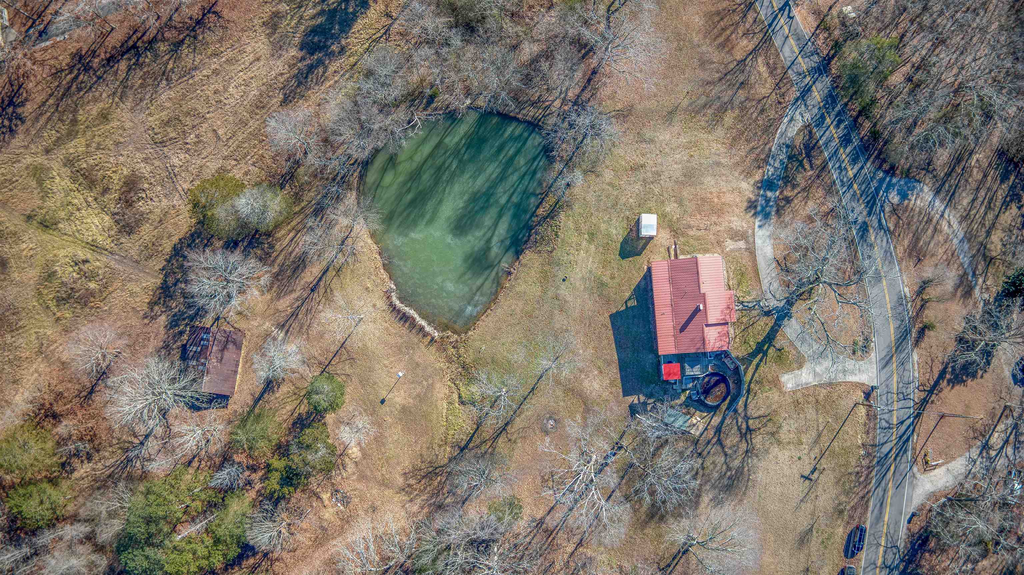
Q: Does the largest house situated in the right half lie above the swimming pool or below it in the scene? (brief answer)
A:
above it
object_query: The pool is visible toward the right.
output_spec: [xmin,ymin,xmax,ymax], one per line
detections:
[697,371,732,405]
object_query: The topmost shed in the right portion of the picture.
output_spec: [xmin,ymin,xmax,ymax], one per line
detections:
[639,214,657,236]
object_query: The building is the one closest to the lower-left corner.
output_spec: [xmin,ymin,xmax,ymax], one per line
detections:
[182,325,251,395]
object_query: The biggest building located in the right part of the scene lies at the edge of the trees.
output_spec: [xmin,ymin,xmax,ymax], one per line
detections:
[646,256,737,355]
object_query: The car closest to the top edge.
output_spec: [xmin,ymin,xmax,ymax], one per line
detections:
[850,524,869,553]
